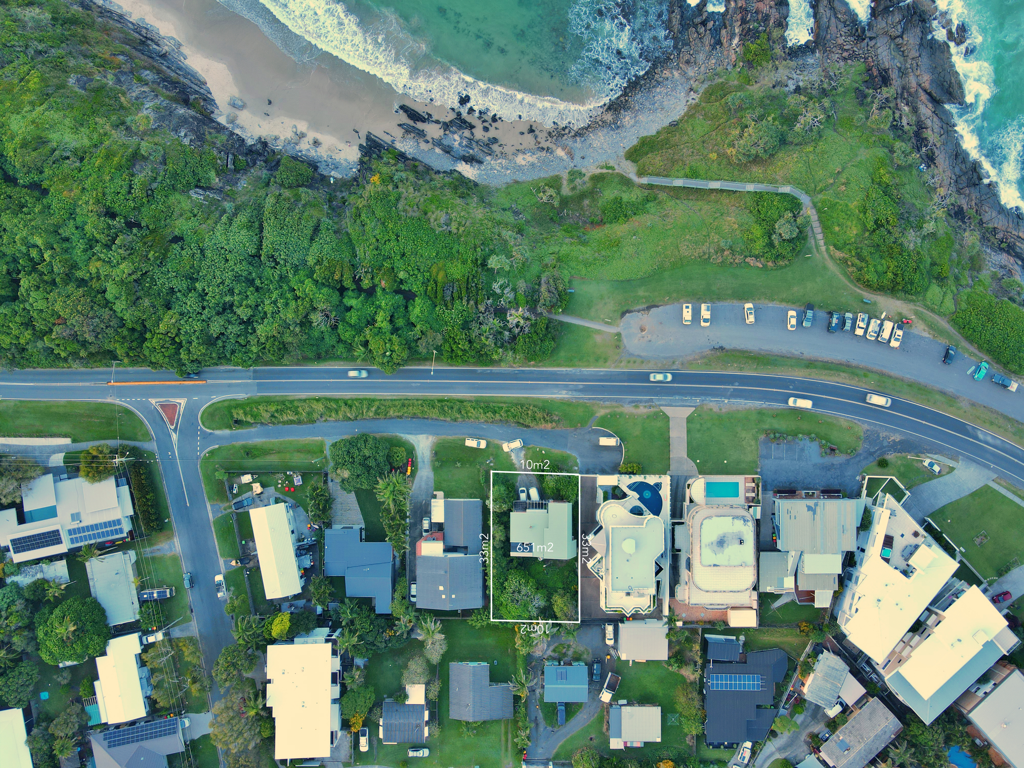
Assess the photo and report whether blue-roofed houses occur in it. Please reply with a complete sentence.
Yes, a blue-roofed house appears in the view.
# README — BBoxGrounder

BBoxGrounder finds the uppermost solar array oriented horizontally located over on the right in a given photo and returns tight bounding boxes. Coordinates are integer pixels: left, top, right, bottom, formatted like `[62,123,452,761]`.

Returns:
[710,674,760,690]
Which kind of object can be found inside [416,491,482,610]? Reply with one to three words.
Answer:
house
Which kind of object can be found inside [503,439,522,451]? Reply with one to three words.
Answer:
vehicle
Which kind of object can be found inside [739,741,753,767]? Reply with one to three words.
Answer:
vehicle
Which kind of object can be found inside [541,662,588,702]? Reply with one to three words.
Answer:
house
